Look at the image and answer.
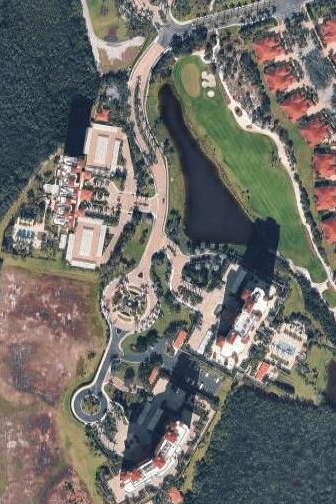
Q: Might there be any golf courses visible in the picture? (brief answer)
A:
Yes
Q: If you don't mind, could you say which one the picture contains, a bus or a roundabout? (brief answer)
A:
roundabout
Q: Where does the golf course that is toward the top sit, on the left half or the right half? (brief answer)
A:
right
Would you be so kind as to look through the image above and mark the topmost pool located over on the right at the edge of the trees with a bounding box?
[267,323,306,367]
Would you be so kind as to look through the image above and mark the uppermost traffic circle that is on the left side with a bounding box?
[102,273,157,330]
